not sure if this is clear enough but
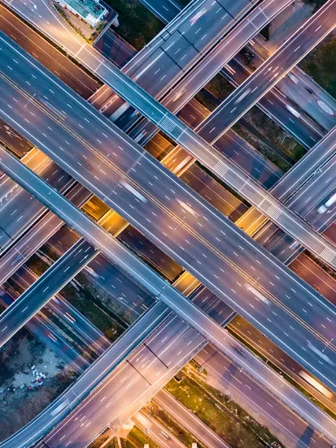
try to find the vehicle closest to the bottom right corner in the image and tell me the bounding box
[307,375,328,394]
